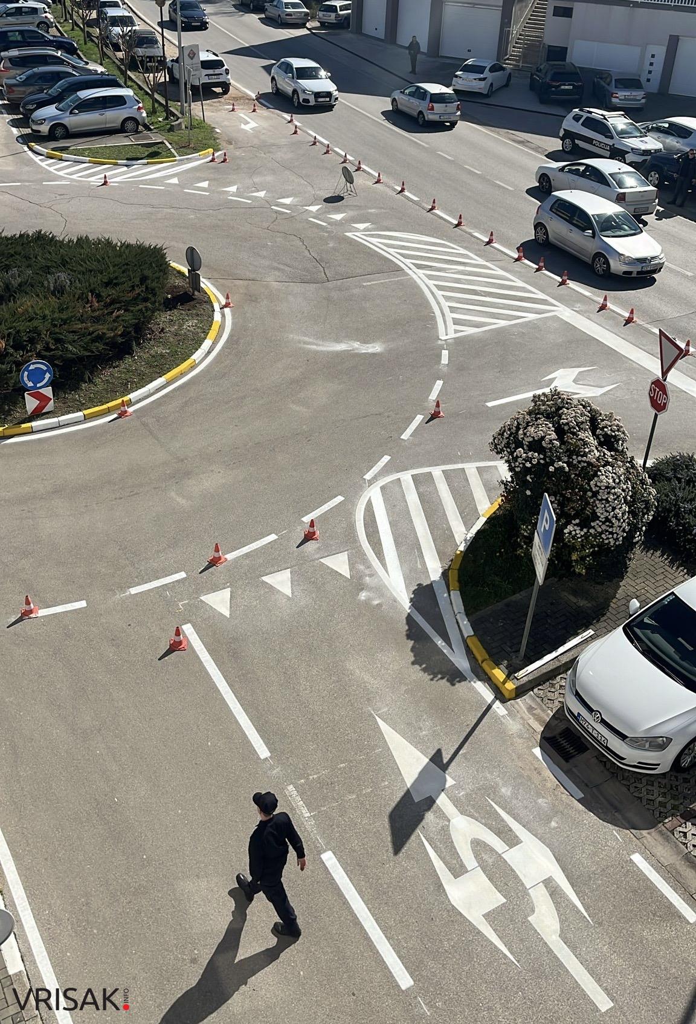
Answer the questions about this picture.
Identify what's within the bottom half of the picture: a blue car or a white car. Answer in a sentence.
Visible within the bottom half of the picture is a white car.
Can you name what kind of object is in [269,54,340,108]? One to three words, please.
car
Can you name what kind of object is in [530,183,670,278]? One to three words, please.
car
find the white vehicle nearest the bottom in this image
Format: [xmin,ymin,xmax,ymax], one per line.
[561,590,696,777]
